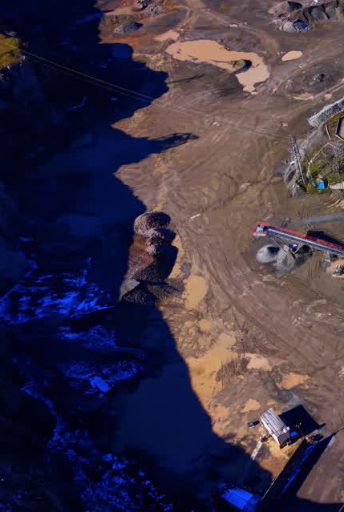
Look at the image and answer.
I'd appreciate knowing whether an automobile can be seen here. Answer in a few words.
No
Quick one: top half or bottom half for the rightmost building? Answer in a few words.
bottom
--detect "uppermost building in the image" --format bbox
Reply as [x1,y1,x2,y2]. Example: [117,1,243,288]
[260,408,297,449]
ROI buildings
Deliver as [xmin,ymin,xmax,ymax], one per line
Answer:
[219,480,262,512]
[260,408,297,449]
